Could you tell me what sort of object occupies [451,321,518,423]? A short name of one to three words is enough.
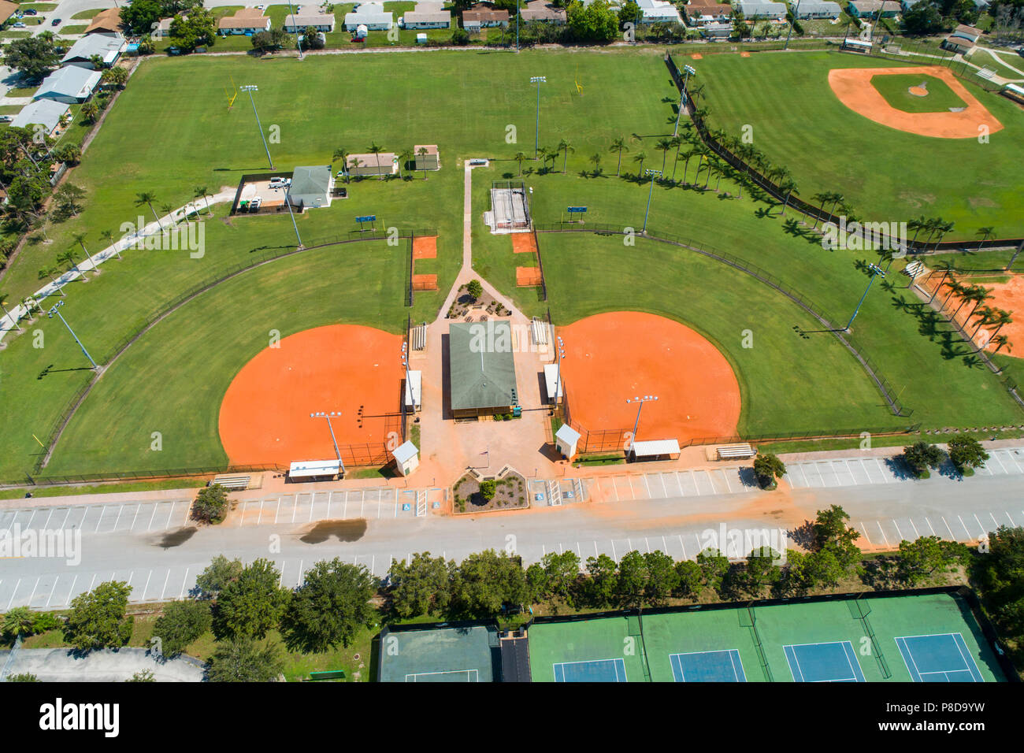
building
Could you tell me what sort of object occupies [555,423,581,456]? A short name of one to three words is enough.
shed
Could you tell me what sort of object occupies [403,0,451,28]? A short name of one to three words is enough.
house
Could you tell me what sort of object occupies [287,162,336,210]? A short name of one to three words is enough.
building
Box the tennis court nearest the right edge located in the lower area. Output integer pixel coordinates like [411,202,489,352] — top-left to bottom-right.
[856,591,1024,753]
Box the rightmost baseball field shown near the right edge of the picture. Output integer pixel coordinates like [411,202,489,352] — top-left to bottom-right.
[927,270,1024,363]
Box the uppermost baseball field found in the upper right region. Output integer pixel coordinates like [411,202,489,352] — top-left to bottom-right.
[669,51,1024,238]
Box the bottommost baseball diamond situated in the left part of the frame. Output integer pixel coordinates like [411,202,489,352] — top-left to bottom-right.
[36,236,412,483]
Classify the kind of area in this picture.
sports ground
